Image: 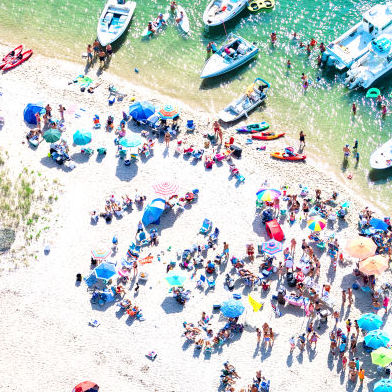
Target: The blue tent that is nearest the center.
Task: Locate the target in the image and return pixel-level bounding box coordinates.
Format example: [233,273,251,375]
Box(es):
[140,205,173,233]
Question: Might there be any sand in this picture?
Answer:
Yes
